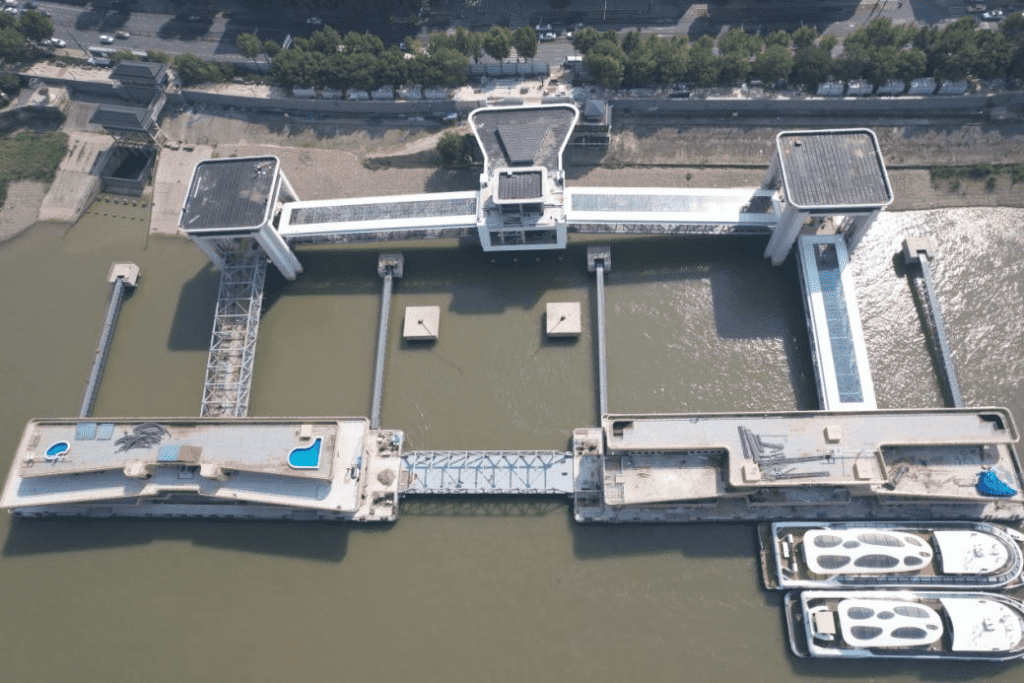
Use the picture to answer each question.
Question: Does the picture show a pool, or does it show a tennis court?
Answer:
pool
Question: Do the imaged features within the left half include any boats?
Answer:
No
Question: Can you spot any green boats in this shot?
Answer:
No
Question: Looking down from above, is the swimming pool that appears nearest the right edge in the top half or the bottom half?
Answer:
bottom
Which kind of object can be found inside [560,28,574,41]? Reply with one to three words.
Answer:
vehicle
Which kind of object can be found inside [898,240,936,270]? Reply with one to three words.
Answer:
pier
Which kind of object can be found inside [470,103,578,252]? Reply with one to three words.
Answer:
building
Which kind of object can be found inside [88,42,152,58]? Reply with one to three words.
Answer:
vehicle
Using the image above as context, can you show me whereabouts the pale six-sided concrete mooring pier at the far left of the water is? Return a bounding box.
[106,264,146,294]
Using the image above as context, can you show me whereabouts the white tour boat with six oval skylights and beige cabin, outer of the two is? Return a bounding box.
[787,591,1024,658]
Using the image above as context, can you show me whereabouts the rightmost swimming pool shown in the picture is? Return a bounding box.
[287,436,324,471]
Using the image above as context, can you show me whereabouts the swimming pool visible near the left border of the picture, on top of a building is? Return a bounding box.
[44,440,72,460]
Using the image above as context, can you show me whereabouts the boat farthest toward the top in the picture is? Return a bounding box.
[759,521,1024,590]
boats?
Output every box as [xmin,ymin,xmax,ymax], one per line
[787,591,1024,658]
[759,521,1024,590]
